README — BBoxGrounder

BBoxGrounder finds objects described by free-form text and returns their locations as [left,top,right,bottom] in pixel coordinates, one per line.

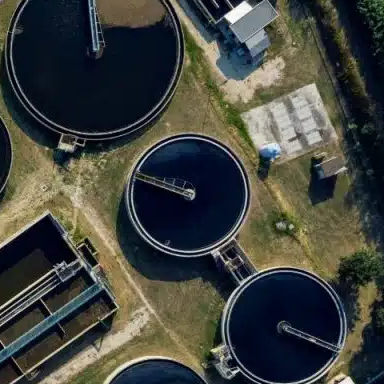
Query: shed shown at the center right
[312,156,345,181]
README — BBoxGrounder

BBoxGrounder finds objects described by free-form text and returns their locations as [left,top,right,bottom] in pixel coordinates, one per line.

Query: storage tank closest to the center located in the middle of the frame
[124,133,250,257]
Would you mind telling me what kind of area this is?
industrial area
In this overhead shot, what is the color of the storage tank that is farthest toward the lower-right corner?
black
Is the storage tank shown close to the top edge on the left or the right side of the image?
left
